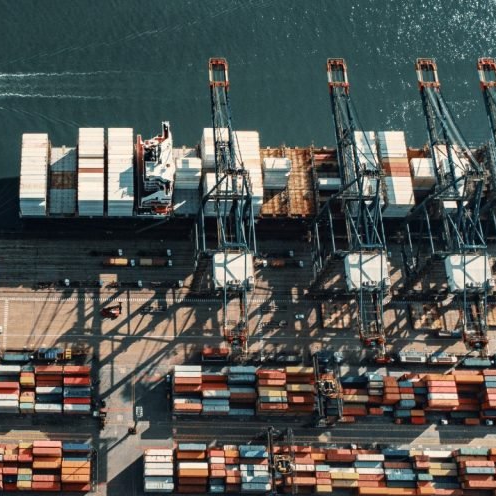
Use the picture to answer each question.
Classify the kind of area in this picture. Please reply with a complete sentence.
The area seen from above is a port.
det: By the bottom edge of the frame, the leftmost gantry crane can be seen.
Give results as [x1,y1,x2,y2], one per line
[256,433,302,496]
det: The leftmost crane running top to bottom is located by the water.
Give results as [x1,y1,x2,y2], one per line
[182,58,258,353]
